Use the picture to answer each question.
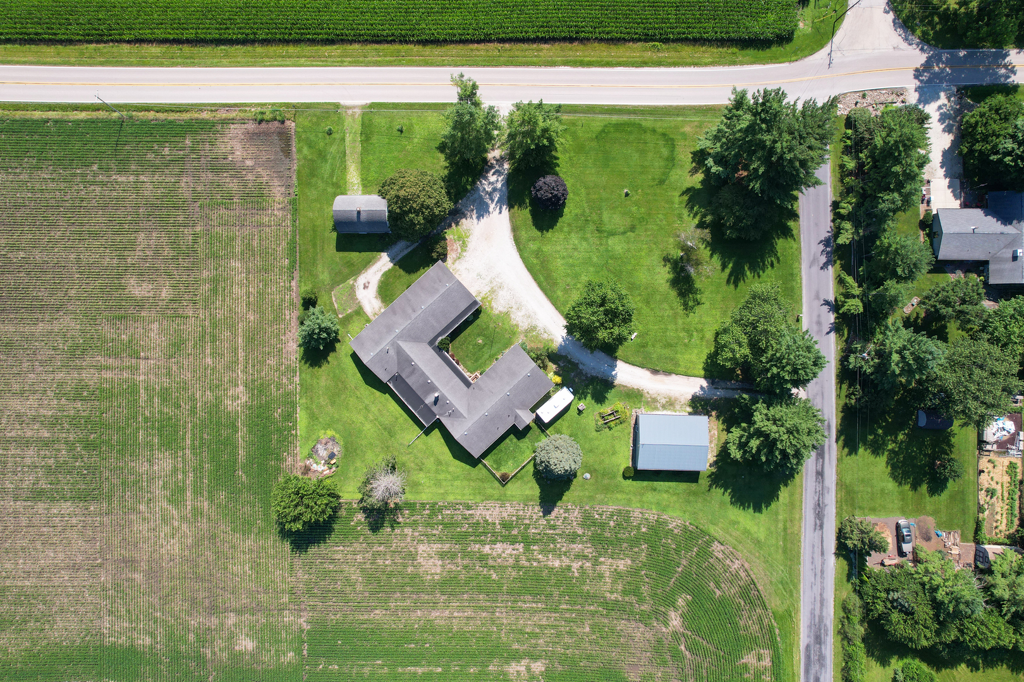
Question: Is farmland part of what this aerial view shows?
Yes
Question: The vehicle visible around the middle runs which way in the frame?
at an angle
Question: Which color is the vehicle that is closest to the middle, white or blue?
white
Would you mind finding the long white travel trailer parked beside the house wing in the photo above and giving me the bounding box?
[537,386,572,421]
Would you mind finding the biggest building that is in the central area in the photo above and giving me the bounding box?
[348,259,556,459]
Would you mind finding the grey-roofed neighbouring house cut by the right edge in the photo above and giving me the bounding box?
[930,190,1024,284]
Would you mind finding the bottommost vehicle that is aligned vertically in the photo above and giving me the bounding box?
[896,521,914,557]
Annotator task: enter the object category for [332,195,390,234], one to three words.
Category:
barn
